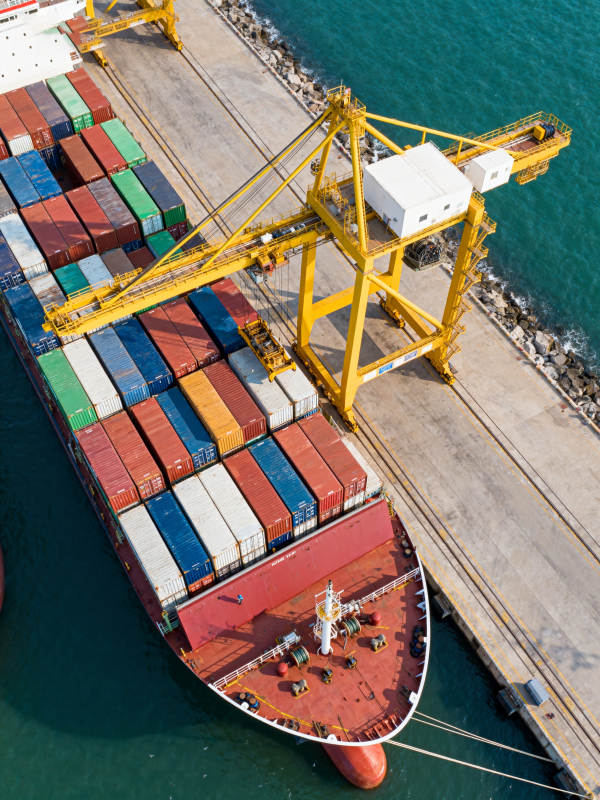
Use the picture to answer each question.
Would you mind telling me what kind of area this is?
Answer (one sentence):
What you see here is a port.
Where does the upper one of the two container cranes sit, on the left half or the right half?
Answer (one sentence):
You can find the upper one of the two container cranes on the left side of the picture.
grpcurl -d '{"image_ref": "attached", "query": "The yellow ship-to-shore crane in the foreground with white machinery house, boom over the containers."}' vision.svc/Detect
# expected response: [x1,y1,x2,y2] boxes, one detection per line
[41,58,582,430]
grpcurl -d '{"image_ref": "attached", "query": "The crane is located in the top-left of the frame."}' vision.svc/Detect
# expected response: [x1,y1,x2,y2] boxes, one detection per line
[73,0,184,72]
